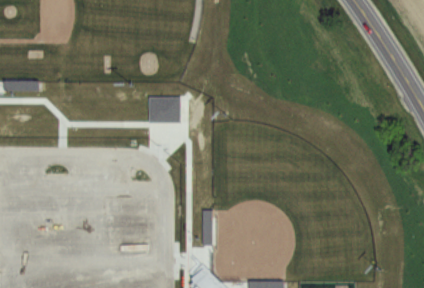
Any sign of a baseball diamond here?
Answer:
Yes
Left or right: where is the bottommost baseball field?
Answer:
right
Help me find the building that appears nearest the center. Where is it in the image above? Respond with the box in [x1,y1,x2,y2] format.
[149,96,181,122]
